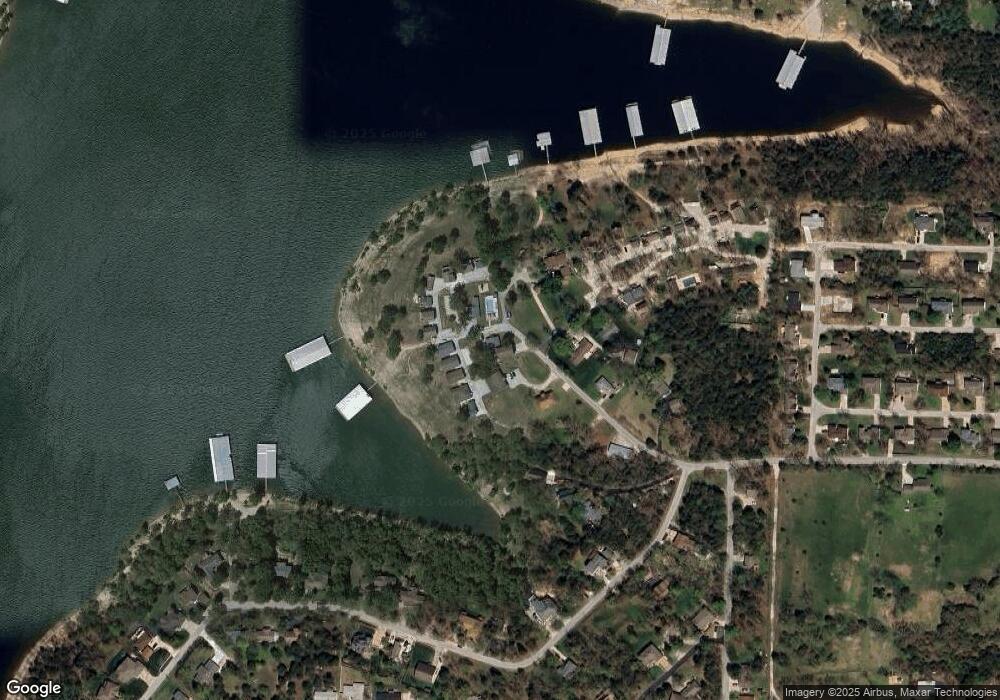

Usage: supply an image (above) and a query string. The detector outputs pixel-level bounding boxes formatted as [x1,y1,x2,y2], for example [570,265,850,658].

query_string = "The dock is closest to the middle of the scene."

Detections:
[335,383,378,419]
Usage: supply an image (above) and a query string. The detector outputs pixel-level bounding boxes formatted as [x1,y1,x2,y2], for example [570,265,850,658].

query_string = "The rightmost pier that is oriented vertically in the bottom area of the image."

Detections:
[257,442,276,492]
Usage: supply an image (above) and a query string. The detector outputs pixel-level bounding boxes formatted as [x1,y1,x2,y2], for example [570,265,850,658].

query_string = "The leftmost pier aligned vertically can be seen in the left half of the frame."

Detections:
[209,433,233,491]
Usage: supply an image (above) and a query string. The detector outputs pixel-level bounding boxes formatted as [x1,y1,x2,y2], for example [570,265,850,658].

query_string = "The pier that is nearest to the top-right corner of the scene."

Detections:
[776,39,807,90]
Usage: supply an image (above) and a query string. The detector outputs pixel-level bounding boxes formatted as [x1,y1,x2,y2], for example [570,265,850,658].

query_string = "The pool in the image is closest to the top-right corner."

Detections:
[678,273,701,290]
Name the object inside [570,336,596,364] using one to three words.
house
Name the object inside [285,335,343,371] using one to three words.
pier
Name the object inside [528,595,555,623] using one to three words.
house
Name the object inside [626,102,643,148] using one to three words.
pier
